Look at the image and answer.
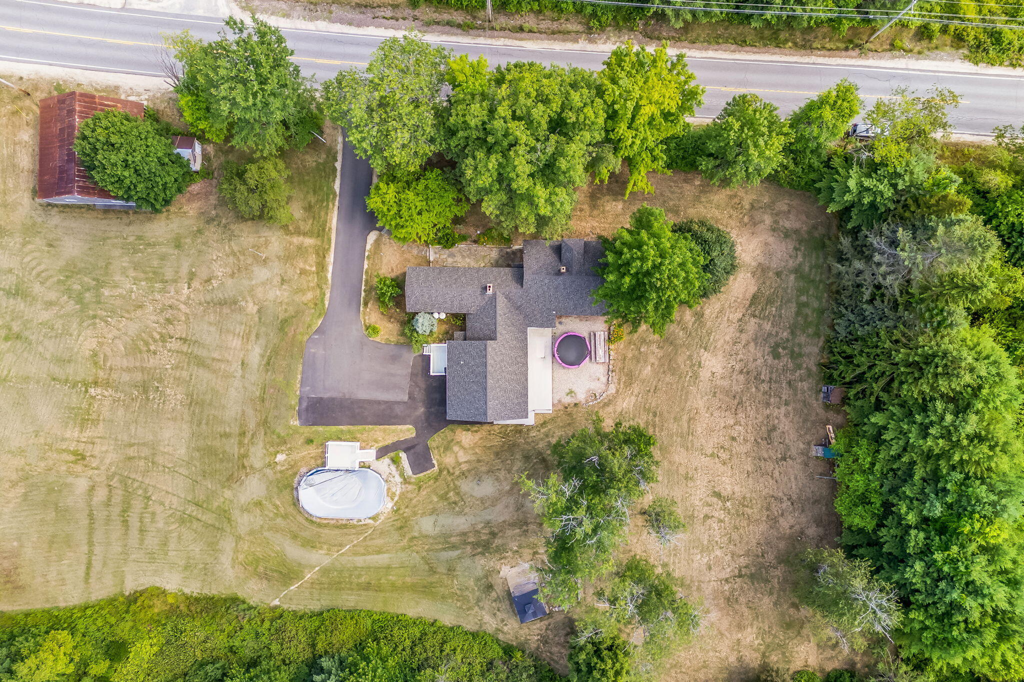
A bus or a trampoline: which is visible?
trampoline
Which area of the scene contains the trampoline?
center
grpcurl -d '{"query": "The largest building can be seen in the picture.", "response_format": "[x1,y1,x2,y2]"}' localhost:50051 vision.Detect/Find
[405,239,611,422]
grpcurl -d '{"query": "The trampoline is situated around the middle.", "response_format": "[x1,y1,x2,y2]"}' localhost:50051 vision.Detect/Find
[554,332,591,369]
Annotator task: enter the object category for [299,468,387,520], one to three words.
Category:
swimming pool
